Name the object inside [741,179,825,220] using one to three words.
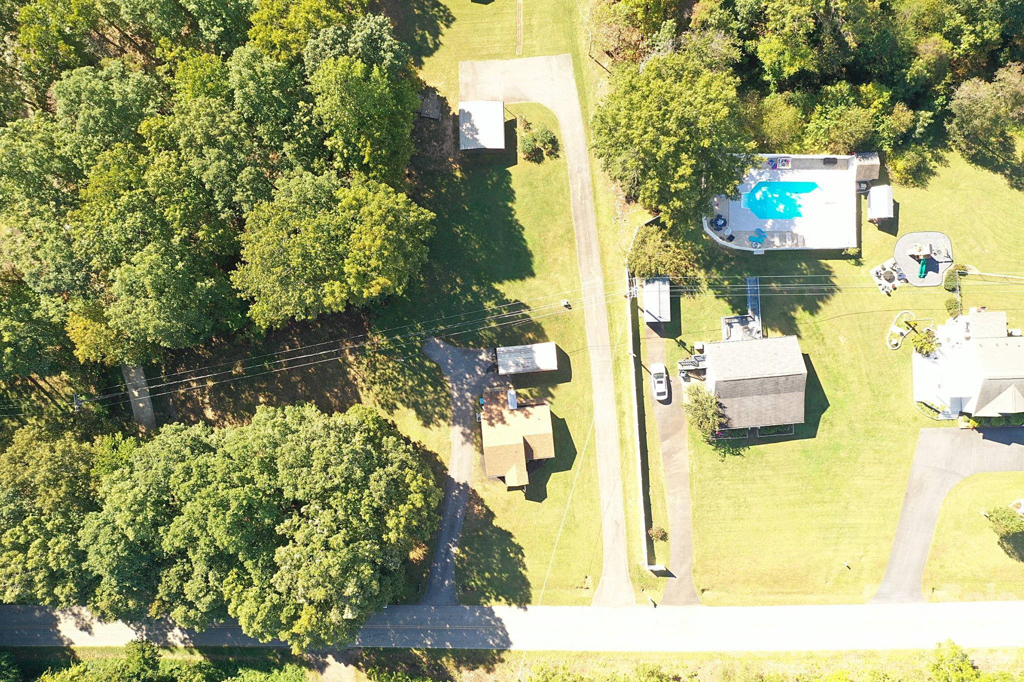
swimming pool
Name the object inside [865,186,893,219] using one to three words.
shed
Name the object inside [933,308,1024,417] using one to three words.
house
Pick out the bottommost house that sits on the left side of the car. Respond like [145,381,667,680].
[481,389,555,486]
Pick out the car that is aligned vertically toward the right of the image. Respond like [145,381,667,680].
[651,364,670,402]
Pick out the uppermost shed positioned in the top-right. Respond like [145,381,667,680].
[848,151,882,182]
